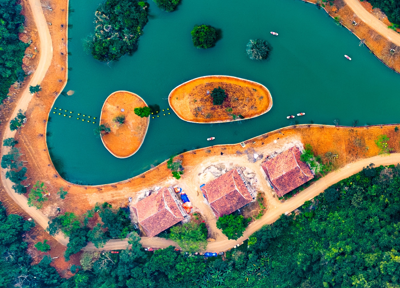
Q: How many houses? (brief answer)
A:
3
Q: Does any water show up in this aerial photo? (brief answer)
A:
Yes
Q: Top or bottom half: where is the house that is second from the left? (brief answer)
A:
bottom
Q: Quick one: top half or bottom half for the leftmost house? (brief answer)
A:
bottom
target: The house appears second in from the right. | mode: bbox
[201,167,259,220]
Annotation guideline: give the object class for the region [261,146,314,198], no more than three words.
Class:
house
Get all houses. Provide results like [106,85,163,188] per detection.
[201,167,259,220]
[131,185,189,237]
[261,146,314,198]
